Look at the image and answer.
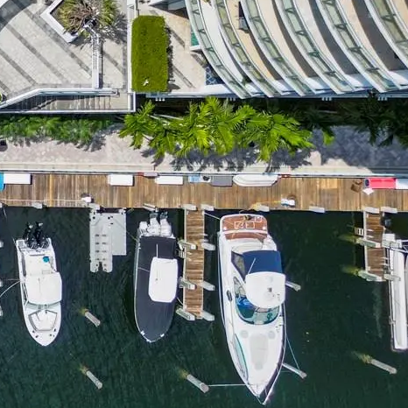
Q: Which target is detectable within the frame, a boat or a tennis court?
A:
boat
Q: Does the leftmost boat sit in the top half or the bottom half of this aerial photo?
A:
bottom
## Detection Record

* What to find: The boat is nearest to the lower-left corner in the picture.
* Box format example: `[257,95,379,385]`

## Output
[13,223,61,346]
